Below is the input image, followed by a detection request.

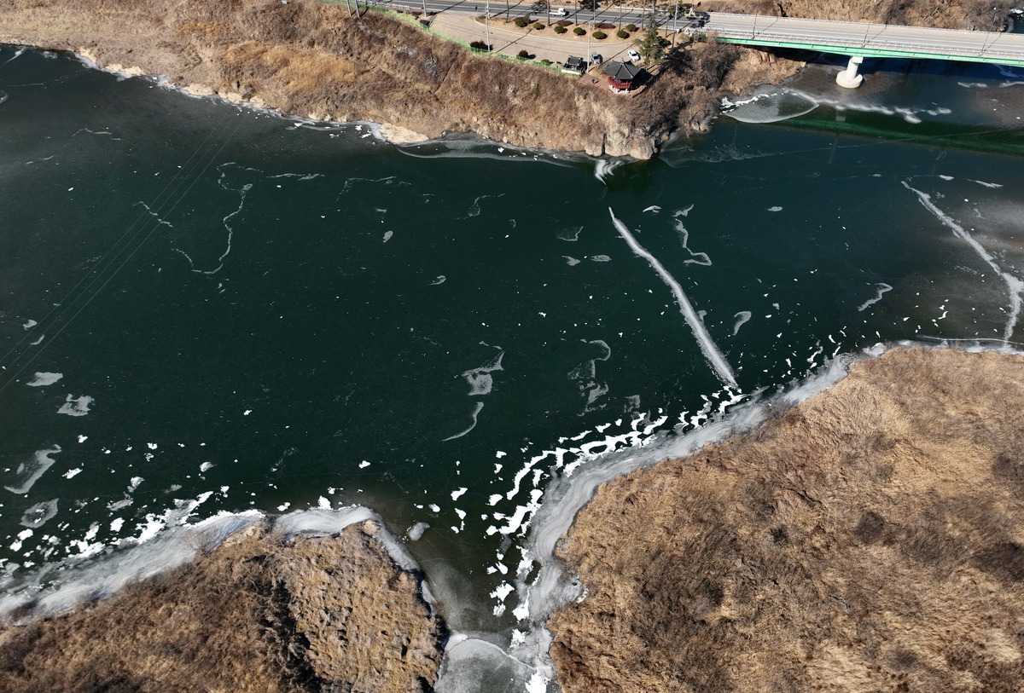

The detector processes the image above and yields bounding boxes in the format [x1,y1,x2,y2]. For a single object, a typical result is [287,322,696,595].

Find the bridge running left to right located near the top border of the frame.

[682,10,1024,89]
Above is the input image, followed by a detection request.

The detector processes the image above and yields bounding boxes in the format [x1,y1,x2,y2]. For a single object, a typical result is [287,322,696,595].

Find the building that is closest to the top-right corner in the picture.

[604,56,641,92]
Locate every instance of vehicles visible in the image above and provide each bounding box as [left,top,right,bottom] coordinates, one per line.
[628,48,640,60]
[591,49,601,63]
[549,7,566,17]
